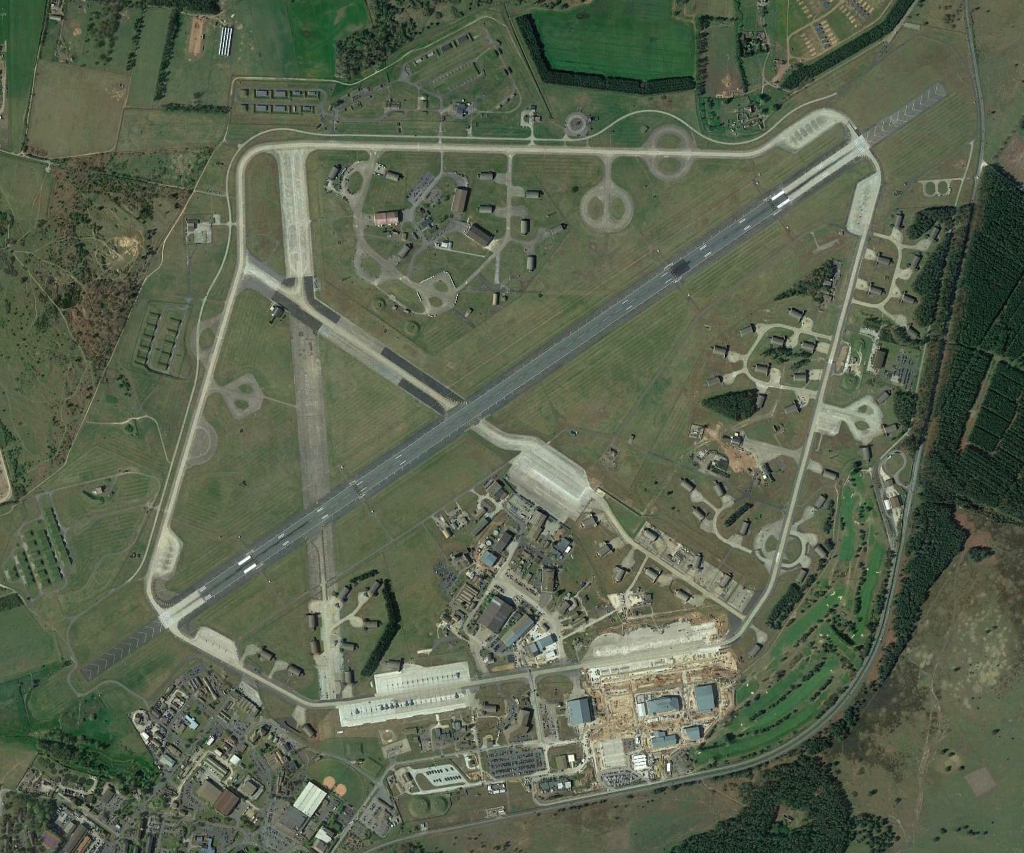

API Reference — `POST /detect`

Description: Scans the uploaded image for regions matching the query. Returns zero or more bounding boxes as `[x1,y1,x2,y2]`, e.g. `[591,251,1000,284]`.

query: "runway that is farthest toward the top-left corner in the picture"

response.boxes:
[270,149,314,287]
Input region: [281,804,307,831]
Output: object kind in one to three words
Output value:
building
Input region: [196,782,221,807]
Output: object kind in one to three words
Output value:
hangar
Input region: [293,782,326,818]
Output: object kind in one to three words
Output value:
building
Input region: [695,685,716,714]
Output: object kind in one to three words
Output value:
hangar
